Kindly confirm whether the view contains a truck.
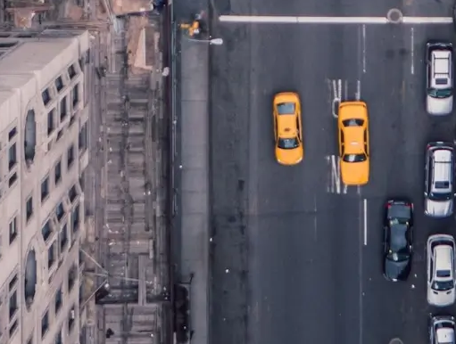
No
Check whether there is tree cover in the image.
No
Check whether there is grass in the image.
No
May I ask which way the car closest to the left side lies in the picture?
vertically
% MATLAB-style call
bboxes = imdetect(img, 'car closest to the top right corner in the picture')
[424,40,456,115]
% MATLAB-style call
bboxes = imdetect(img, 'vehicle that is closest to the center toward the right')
[272,89,306,165]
